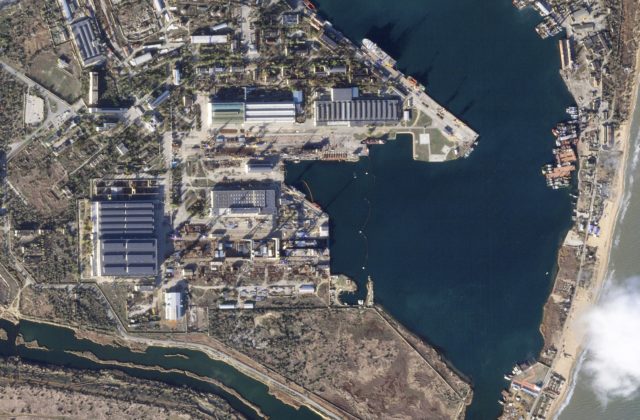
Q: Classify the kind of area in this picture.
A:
port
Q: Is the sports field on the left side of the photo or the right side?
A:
left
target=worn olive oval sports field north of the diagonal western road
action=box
[29,51,81,99]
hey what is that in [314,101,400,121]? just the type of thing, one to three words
building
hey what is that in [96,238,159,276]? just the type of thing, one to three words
building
